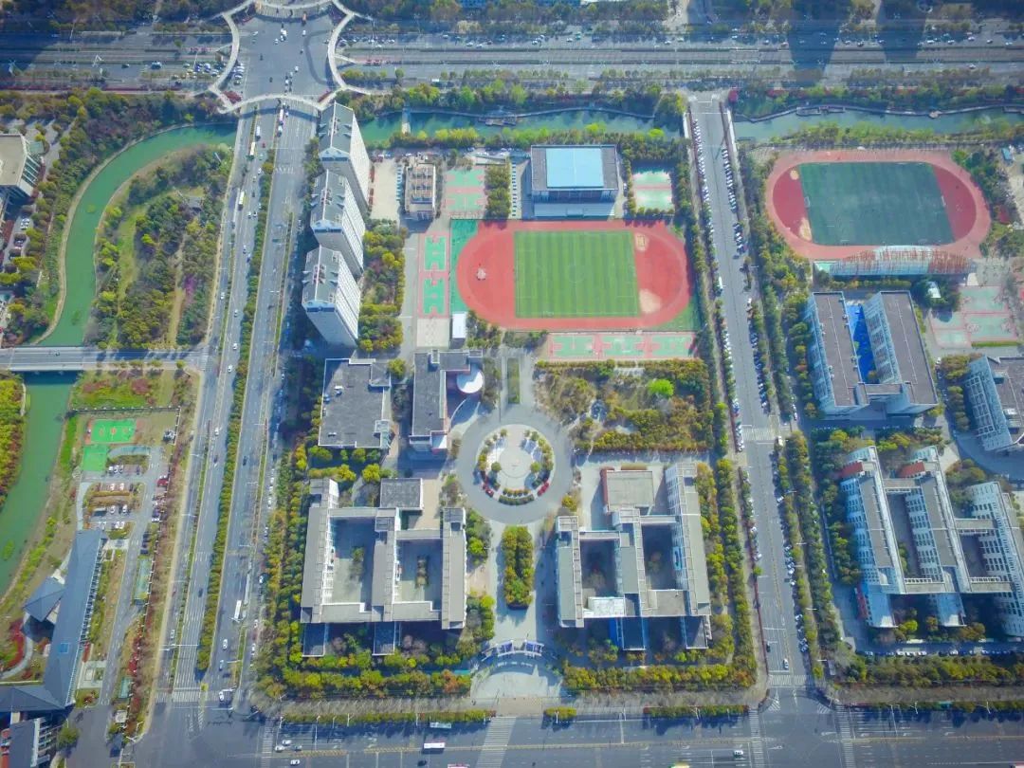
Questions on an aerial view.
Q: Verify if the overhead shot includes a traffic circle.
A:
Yes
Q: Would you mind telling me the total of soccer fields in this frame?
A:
2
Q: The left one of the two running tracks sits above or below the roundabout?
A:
above it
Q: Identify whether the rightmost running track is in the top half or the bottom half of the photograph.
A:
top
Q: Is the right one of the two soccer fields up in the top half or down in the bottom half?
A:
top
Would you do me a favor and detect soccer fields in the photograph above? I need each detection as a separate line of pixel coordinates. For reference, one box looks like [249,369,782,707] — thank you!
[799,160,957,246]
[514,230,641,316]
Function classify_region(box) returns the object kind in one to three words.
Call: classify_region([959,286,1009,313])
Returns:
basketball court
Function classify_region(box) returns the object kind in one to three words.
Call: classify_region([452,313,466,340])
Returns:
shed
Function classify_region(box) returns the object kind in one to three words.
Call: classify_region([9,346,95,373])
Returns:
bridge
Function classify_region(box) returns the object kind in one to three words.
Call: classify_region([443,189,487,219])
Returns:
basketball court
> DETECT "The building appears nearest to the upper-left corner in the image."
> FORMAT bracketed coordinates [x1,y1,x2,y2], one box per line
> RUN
[0,133,39,196]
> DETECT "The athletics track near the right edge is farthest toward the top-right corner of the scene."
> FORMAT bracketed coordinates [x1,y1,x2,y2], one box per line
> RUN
[765,149,990,272]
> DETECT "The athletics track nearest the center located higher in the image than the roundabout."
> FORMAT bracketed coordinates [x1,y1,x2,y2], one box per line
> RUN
[449,219,700,331]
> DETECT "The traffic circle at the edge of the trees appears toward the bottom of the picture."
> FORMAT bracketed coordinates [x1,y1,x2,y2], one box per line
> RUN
[474,425,555,505]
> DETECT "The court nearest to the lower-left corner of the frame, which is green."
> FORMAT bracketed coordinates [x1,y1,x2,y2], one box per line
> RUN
[81,446,108,470]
